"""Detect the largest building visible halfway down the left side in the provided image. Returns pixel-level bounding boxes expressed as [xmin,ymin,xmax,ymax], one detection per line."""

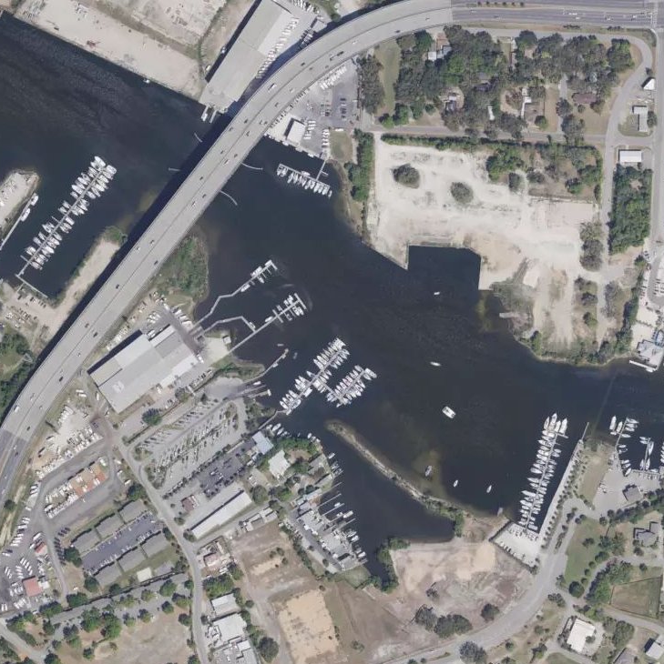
[91,326,200,413]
